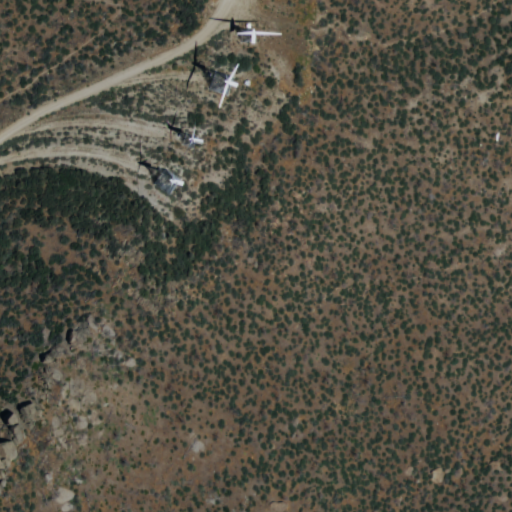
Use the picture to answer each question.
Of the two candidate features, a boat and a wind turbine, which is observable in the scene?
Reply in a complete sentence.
I can see a wind turbine in this picture.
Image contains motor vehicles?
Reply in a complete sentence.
No, the photo shows no motor vehicle.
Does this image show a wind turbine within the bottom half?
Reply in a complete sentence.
No, the scene shows no wind turbine within the bottom half.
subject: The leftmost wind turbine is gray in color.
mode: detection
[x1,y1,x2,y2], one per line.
[152,168,182,206]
